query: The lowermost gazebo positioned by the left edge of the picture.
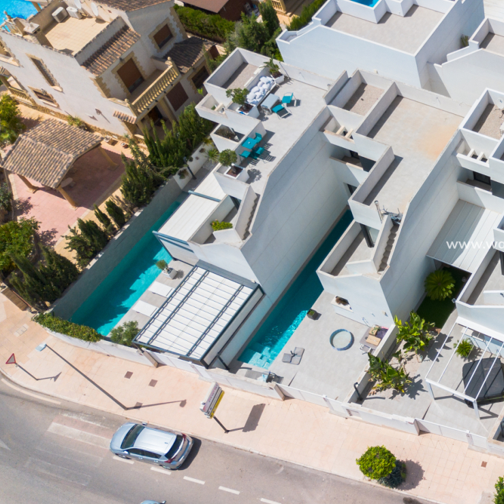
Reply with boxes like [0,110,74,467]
[0,116,119,209]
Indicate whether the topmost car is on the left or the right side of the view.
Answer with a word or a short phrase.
left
